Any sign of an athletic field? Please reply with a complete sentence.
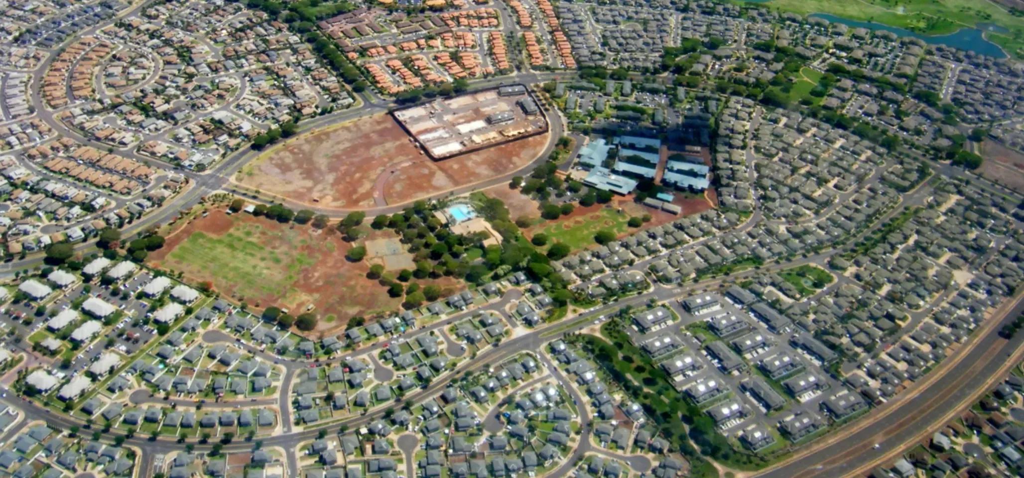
Yes, an athletic field appears in the view.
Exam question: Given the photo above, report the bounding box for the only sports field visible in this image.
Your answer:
[145,203,462,337]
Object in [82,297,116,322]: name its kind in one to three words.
building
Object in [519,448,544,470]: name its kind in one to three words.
house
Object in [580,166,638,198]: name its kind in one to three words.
building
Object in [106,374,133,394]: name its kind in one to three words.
house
